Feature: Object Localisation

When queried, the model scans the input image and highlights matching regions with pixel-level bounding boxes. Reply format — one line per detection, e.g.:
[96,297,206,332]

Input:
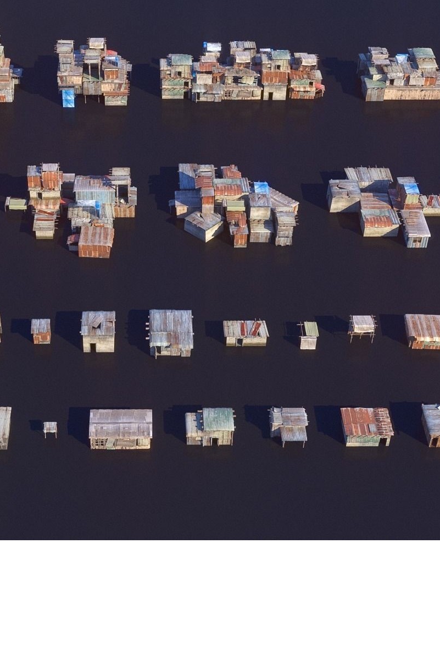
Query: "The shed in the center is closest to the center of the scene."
[225,318,269,346]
